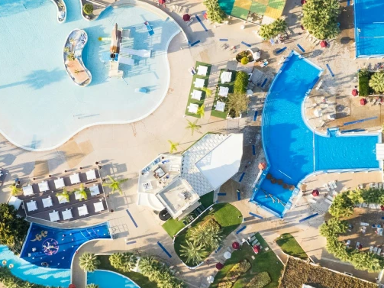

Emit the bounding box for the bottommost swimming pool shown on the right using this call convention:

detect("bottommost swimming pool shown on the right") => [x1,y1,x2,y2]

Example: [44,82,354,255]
[249,49,383,219]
